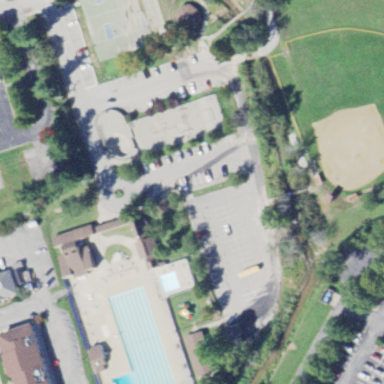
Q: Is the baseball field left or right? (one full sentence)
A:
The baseball field is on the right side of the image.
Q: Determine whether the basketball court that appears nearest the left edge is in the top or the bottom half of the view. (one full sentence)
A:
You can find the basketball court that appears nearest the left edge in the top half.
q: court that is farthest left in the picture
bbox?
[81,0,137,64]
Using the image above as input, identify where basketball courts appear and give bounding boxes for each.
[81,0,137,64]
[120,0,165,50]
